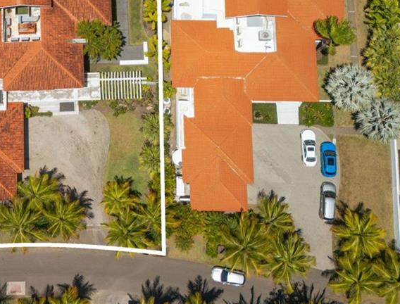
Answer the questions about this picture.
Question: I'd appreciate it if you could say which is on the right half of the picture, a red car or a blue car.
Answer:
blue car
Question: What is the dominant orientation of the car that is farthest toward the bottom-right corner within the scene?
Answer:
up and down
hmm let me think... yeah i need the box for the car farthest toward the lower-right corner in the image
[318,182,338,221]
